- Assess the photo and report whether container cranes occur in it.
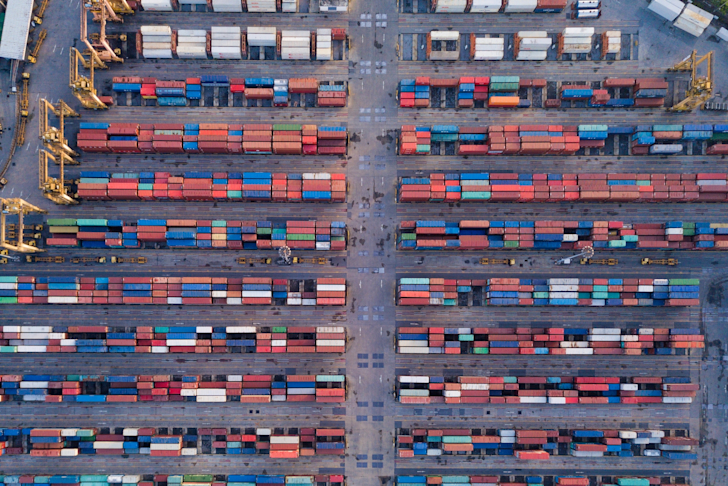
Yes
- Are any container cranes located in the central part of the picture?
No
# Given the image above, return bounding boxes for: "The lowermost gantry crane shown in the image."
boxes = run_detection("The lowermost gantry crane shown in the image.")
[0,200,41,253]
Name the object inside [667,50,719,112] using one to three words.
container crane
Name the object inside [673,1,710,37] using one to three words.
shed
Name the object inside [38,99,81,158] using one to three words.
container crane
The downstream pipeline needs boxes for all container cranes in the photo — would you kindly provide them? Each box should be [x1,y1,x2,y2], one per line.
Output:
[69,48,109,110]
[38,149,81,205]
[667,50,719,112]
[0,200,41,253]
[38,99,81,158]
[79,0,119,63]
